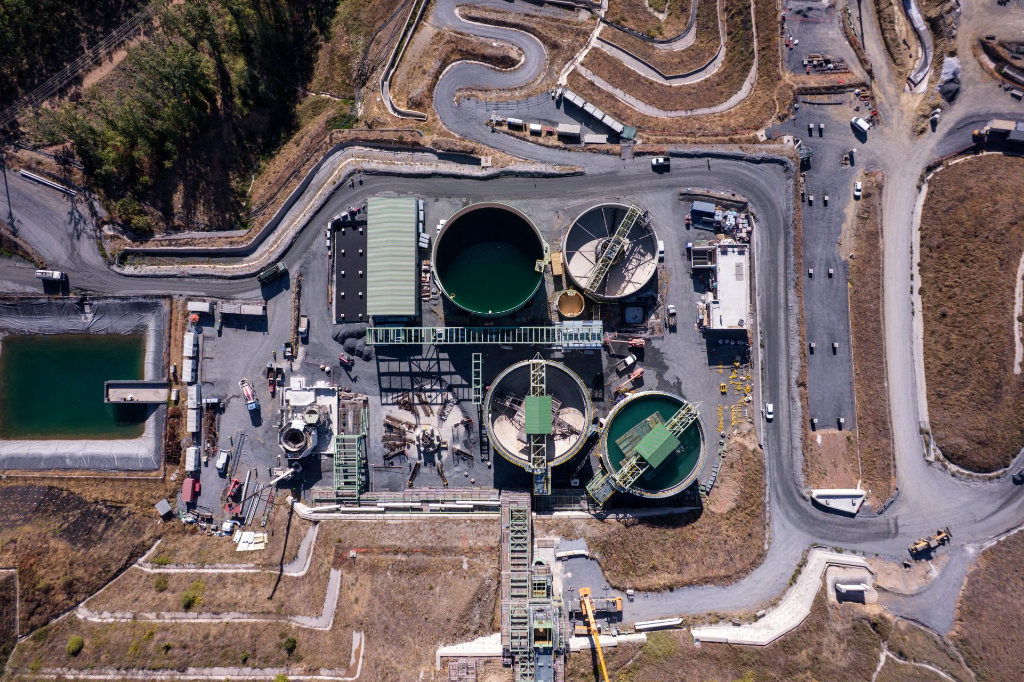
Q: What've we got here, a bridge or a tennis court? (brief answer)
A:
bridge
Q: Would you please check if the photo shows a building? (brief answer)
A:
Yes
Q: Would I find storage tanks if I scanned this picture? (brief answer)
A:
Yes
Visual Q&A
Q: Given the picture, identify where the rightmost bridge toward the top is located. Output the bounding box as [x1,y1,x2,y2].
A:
[584,205,641,291]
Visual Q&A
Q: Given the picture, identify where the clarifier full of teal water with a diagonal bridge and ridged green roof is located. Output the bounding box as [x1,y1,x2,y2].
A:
[581,391,708,504]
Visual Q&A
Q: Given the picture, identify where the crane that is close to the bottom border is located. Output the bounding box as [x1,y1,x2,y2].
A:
[569,585,619,682]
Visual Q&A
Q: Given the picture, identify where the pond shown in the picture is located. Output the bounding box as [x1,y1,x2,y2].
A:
[0,298,170,470]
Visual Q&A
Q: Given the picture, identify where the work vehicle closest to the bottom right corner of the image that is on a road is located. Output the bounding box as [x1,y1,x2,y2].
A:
[912,526,948,552]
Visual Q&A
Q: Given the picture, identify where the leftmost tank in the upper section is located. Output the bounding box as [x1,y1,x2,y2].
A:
[431,201,551,319]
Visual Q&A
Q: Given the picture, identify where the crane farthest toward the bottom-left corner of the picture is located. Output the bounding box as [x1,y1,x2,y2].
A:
[227,459,308,514]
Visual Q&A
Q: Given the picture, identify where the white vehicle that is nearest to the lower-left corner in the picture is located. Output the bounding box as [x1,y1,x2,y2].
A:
[214,449,232,473]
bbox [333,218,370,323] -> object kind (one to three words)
building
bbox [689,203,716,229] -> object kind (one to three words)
shed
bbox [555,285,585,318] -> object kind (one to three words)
storage tank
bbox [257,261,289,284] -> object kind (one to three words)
truck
